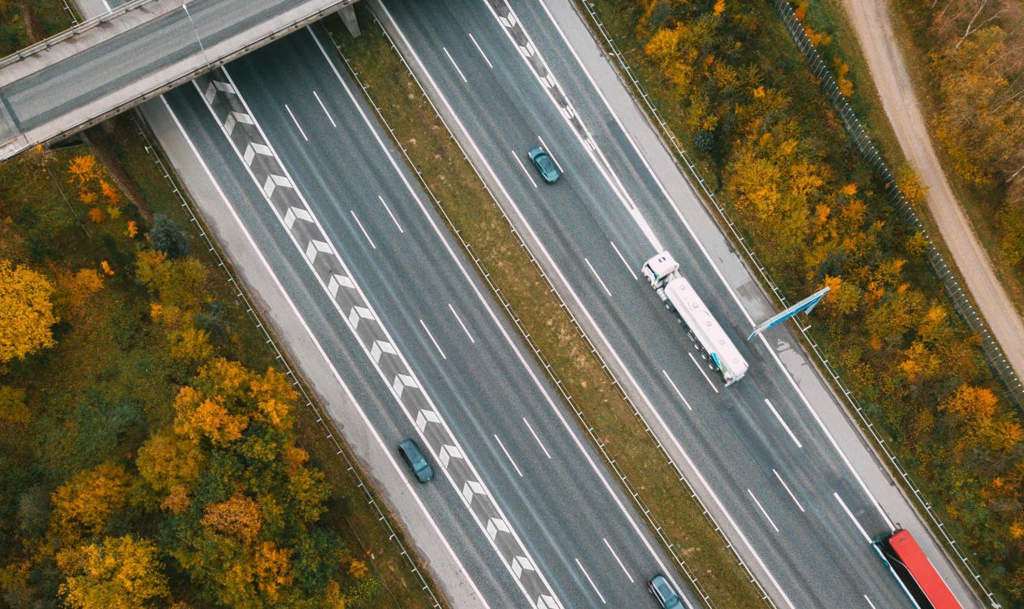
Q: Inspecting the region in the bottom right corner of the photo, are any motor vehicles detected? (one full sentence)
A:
Yes, a motor vehicle is visible in the bottom right corner of the photo.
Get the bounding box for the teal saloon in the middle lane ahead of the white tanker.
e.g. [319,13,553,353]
[526,147,560,186]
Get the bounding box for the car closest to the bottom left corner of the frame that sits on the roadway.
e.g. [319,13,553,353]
[398,438,433,484]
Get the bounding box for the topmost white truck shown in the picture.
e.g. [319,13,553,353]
[642,253,747,389]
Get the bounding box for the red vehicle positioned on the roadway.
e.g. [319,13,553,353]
[874,521,965,609]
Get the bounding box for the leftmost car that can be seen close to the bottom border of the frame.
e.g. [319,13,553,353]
[648,572,686,609]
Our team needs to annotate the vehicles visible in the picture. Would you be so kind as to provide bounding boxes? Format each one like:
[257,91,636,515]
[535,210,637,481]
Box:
[642,253,747,389]
[526,147,560,186]
[874,521,965,609]
[398,438,433,484]
[648,572,686,609]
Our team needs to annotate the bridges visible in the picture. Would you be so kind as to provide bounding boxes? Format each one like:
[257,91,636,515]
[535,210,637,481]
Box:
[0,0,362,160]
